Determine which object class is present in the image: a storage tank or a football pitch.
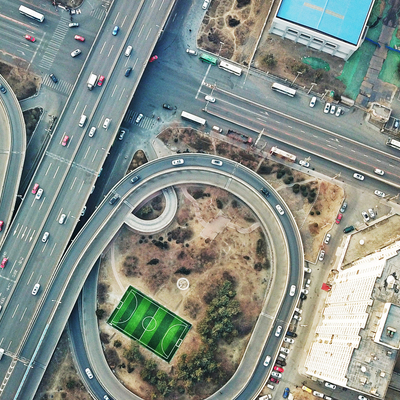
football pitch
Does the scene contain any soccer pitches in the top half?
No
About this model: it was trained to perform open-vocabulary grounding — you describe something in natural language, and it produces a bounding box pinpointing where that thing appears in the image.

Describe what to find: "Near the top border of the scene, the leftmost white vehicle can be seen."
[18,5,46,24]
